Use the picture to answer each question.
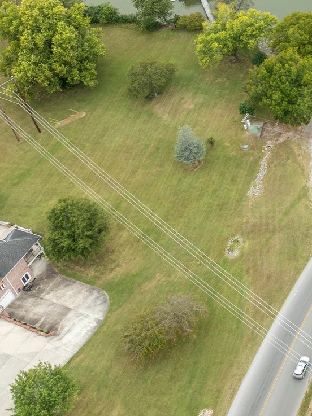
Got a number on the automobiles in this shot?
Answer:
1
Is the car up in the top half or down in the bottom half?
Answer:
bottom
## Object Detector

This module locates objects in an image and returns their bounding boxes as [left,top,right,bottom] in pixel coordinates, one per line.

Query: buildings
[0,216,52,331]
[244,121,263,138]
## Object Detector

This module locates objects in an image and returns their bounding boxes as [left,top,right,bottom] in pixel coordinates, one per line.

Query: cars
[287,354,307,381]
